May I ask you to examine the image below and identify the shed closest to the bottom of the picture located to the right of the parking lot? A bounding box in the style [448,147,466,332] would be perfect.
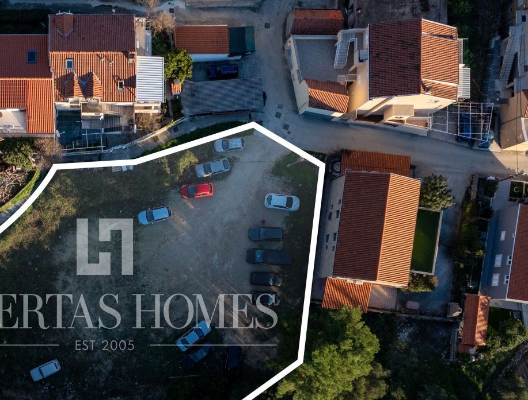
[452,293,491,354]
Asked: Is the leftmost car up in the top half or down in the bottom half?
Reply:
bottom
